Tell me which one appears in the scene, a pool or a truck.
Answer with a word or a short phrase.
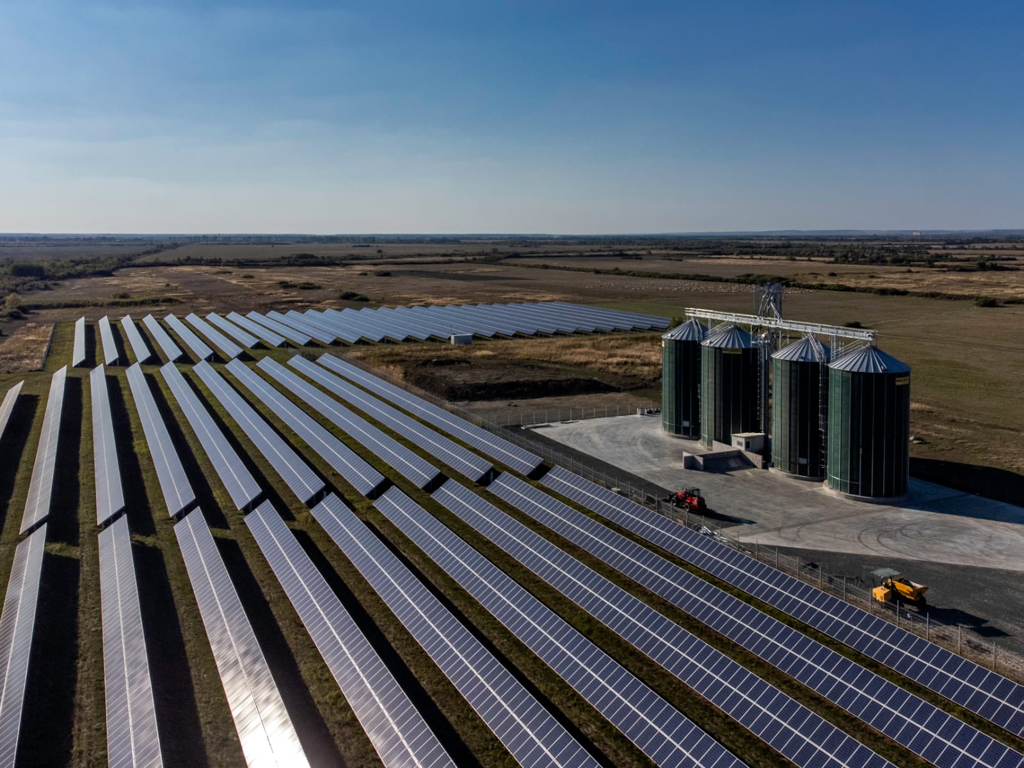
truck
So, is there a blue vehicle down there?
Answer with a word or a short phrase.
No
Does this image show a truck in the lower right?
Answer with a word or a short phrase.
Yes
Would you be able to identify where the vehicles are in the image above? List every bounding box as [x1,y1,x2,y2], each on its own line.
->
[871,565,933,614]
[661,483,710,513]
